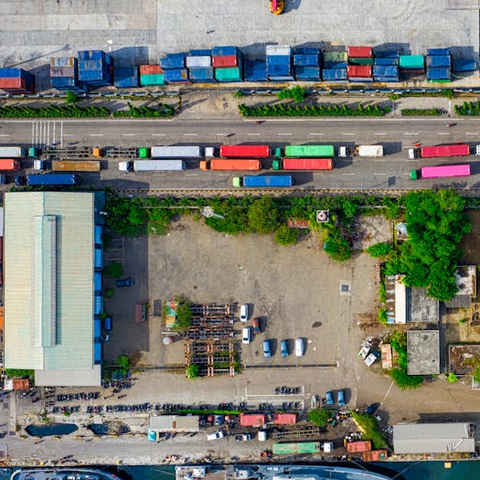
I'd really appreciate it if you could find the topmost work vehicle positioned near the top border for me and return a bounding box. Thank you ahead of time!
[269,0,286,13]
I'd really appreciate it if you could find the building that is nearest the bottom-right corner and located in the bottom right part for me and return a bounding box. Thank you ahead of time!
[393,420,476,453]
